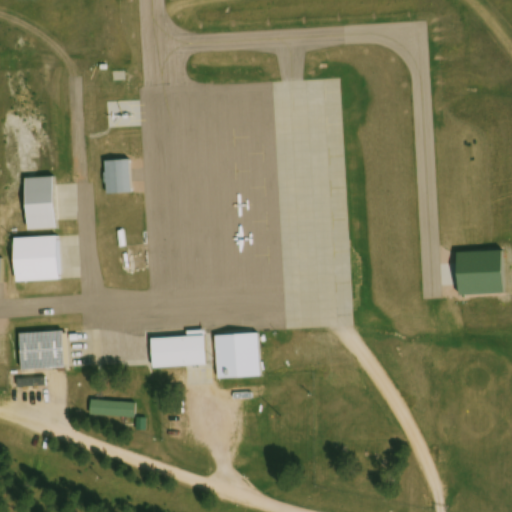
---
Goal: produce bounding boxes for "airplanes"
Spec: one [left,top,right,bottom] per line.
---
[232,224,253,252]
[233,193,250,218]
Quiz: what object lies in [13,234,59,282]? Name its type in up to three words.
hangar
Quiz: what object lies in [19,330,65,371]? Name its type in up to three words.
hangar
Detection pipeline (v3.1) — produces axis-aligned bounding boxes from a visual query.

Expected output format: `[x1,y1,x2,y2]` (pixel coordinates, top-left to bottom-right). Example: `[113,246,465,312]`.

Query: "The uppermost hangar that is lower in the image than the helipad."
[104,159,133,194]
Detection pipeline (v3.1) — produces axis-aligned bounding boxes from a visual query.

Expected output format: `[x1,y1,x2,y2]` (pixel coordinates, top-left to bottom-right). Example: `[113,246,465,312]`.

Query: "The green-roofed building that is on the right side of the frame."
[456,249,504,296]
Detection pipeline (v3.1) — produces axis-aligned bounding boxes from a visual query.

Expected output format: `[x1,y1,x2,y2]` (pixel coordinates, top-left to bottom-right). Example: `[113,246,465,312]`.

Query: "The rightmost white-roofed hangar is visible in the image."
[214,332,262,380]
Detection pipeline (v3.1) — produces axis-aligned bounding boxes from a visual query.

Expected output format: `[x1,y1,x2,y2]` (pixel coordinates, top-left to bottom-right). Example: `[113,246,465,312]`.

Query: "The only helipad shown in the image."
[107,100,144,128]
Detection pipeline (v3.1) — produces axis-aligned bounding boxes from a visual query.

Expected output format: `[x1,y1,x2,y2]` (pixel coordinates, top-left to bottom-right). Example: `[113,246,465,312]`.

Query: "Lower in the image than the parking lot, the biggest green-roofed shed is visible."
[89,398,136,418]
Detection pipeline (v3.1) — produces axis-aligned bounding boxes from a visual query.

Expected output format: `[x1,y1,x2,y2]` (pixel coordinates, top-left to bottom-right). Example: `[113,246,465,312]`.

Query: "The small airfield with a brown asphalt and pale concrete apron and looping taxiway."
[141,0,442,329]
